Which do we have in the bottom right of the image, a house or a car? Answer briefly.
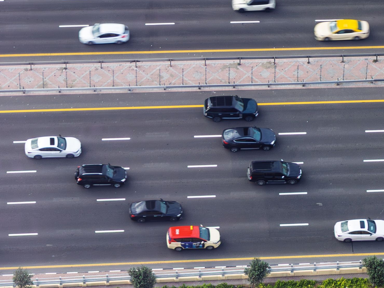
car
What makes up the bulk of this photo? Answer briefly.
paved ground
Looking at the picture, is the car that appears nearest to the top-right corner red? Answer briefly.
No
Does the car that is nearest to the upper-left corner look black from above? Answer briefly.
No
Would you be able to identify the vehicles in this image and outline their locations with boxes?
[232,0,275,13]
[25,134,82,160]
[246,160,303,187]
[221,125,278,152]
[128,197,184,223]
[72,163,128,189]
[79,22,129,45]
[334,217,384,243]
[203,96,258,122]
[315,18,369,41]
[165,225,222,253]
